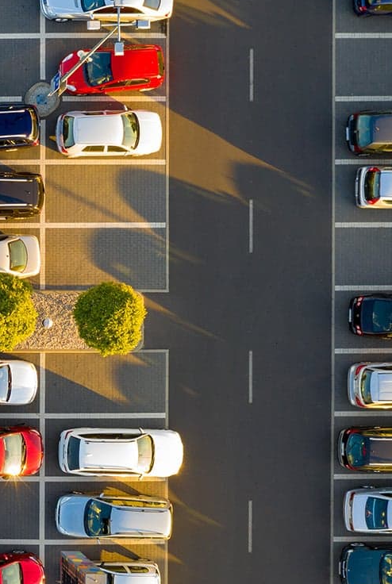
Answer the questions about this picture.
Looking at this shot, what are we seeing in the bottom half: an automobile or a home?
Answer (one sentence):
It is an automobile that can be seen in the bottom half.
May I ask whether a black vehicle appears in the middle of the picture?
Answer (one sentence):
No, in the middle of the picture there is no black vehicle.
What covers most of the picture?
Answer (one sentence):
What you mostly see from above here is paved ground.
